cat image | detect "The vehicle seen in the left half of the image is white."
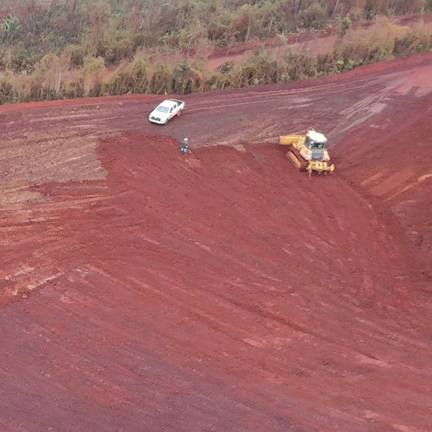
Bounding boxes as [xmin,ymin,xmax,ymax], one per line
[150,99,188,123]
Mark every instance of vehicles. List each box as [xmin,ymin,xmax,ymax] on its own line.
[279,128,330,172]
[150,99,188,123]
